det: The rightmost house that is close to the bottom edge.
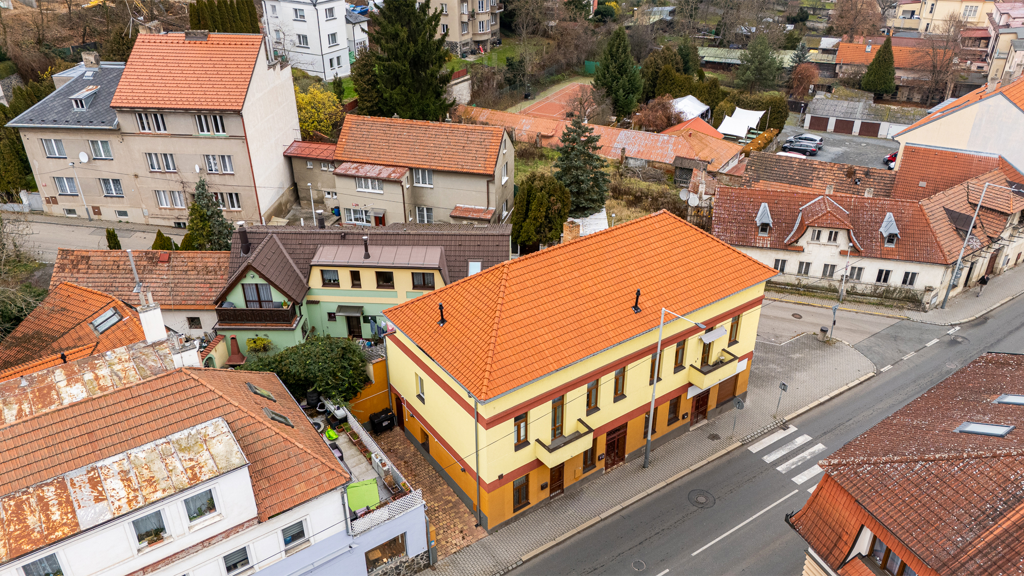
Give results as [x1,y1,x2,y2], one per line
[771,346,1024,576]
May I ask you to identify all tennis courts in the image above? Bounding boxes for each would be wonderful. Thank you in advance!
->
[526,82,614,127]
